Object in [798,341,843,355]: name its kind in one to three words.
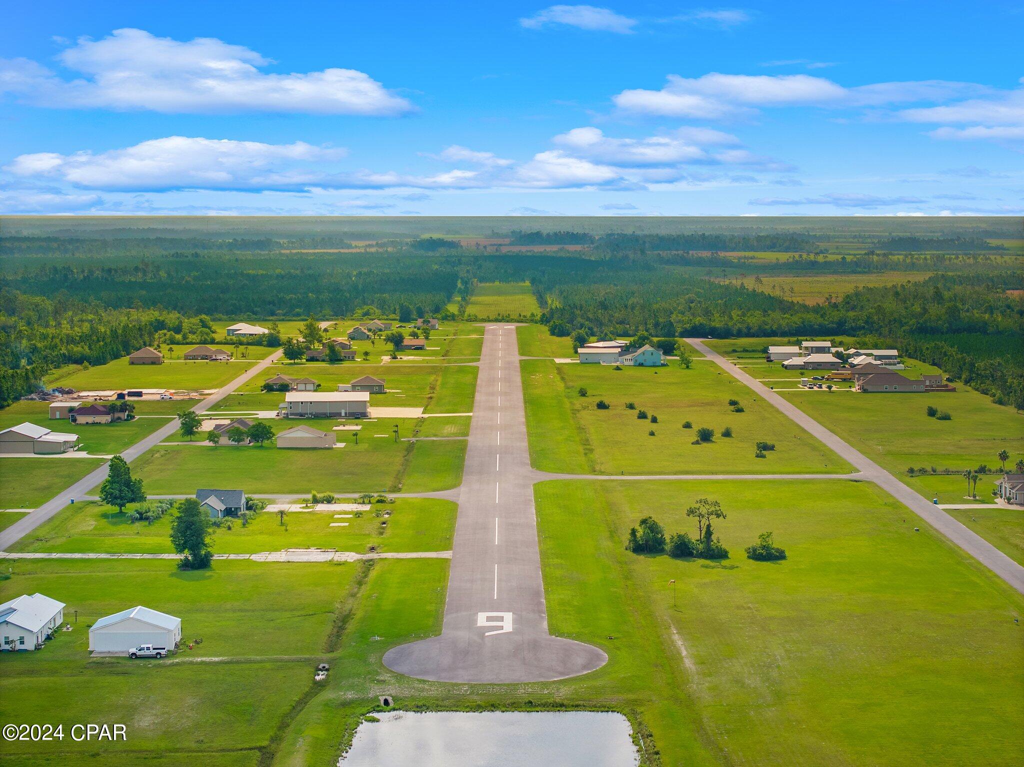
house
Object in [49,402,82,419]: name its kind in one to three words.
shed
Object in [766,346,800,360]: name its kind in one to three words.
barn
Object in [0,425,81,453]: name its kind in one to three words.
hangar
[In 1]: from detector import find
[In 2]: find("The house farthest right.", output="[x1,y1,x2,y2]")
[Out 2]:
[987,474,1024,503]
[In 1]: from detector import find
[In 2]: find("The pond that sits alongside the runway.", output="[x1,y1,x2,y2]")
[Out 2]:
[342,709,643,767]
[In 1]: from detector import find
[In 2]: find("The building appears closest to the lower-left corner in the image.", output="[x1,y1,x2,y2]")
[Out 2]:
[0,594,66,650]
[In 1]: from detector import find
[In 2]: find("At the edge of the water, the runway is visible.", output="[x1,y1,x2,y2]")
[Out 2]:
[386,323,606,678]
